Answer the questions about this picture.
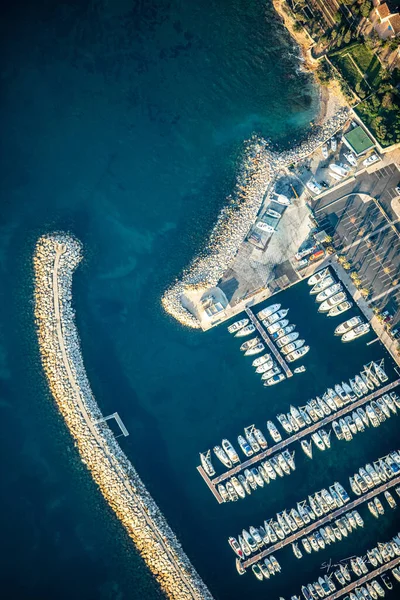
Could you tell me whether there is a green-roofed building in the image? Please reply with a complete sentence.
Yes, this view includes a green-roofed building.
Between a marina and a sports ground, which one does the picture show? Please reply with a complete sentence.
This image shows a marina.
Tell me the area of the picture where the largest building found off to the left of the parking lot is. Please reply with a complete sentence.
The largest building found off to the left of the parking lot sits in the center section of the image.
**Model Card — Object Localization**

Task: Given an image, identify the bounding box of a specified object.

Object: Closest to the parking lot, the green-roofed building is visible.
[343,125,375,159]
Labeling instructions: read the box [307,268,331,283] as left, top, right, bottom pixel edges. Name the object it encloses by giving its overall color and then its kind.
white boat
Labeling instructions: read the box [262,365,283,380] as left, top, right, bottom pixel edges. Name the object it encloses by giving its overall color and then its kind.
white boat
